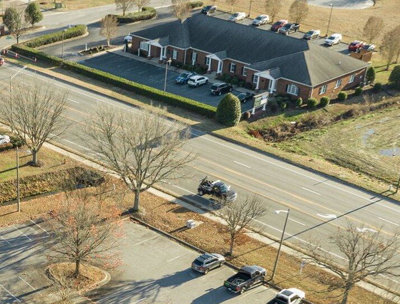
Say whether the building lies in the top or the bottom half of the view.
top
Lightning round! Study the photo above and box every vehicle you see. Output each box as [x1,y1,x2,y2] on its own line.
[118,35,131,45]
[346,39,364,50]
[324,32,343,45]
[278,20,301,32]
[227,11,245,20]
[189,253,225,274]
[185,74,208,87]
[264,288,308,304]
[251,12,270,25]
[173,73,192,84]
[236,91,254,102]
[269,20,286,30]
[193,171,236,202]
[222,266,267,293]
[199,3,217,13]
[303,28,320,39]
[361,41,378,51]
[207,80,232,95]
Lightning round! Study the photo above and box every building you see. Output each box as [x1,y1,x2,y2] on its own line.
[129,11,372,104]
